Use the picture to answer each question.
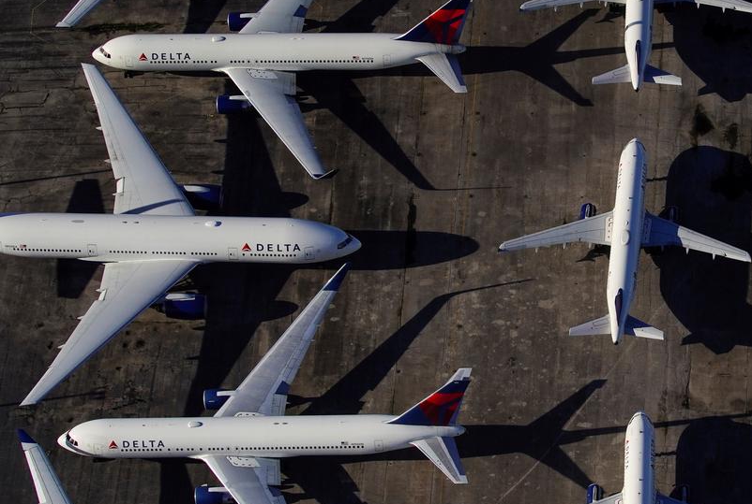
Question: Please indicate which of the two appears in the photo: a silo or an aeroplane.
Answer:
aeroplane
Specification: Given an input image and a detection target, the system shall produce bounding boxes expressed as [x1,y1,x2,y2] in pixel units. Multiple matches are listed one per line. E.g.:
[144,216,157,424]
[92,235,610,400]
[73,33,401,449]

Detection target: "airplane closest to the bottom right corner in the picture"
[583,412,697,504]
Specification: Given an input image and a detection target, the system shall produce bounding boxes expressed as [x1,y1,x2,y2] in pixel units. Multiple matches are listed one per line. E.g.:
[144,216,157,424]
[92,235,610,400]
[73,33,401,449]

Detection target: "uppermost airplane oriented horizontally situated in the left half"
[93,0,470,181]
